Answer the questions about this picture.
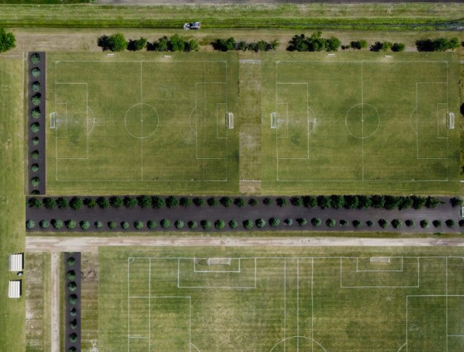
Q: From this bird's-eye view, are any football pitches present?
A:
Yes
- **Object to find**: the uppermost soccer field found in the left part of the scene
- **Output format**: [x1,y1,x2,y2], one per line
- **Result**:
[47,52,238,195]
